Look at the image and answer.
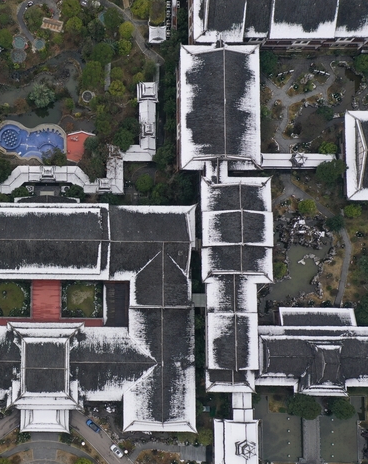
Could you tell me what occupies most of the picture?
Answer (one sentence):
What you mostly see from above here is buildings.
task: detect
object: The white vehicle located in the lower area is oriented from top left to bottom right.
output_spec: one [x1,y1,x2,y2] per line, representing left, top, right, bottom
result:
[109,442,124,459]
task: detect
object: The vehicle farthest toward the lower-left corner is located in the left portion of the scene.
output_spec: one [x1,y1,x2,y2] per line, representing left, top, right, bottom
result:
[86,417,100,433]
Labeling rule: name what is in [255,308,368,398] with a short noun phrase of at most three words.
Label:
building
